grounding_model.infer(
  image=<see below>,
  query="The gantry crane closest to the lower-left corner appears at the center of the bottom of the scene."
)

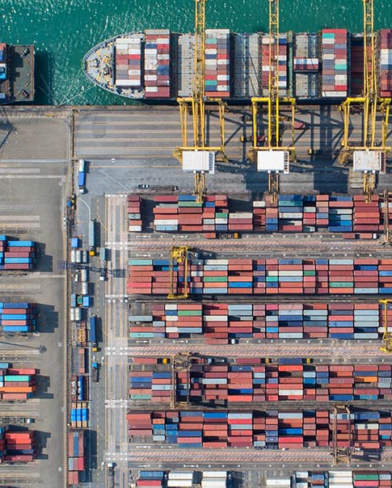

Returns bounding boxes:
[169,352,197,411]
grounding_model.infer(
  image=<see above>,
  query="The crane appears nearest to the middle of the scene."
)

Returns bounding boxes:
[168,245,194,300]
